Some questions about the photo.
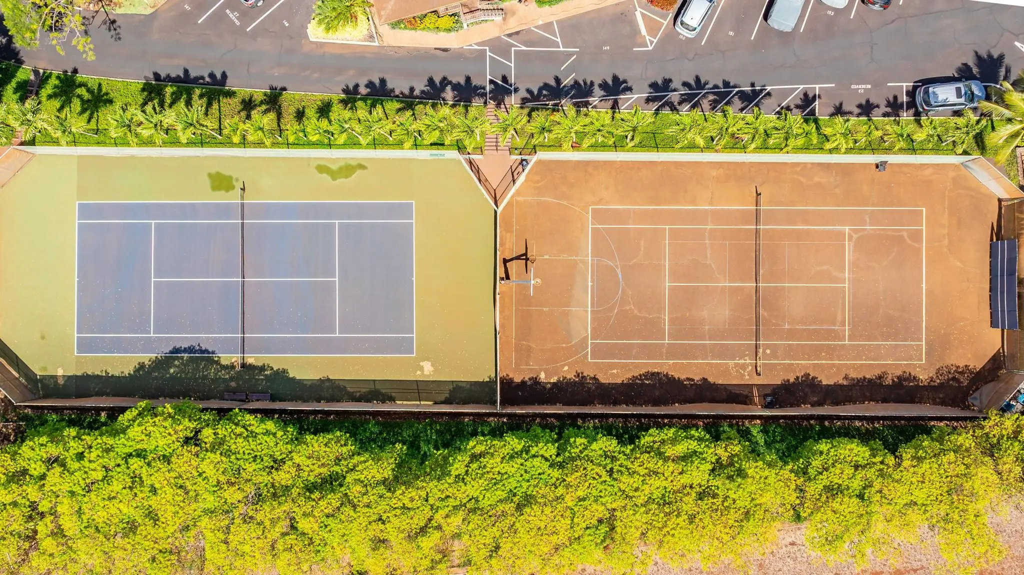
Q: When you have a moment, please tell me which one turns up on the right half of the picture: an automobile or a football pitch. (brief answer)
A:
automobile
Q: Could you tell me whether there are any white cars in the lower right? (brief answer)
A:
No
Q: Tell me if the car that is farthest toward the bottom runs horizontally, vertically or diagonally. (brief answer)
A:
horizontally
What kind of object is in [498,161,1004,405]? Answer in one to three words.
tennis court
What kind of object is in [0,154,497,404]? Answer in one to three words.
tennis court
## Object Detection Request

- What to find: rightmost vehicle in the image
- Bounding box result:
[915,79,988,114]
